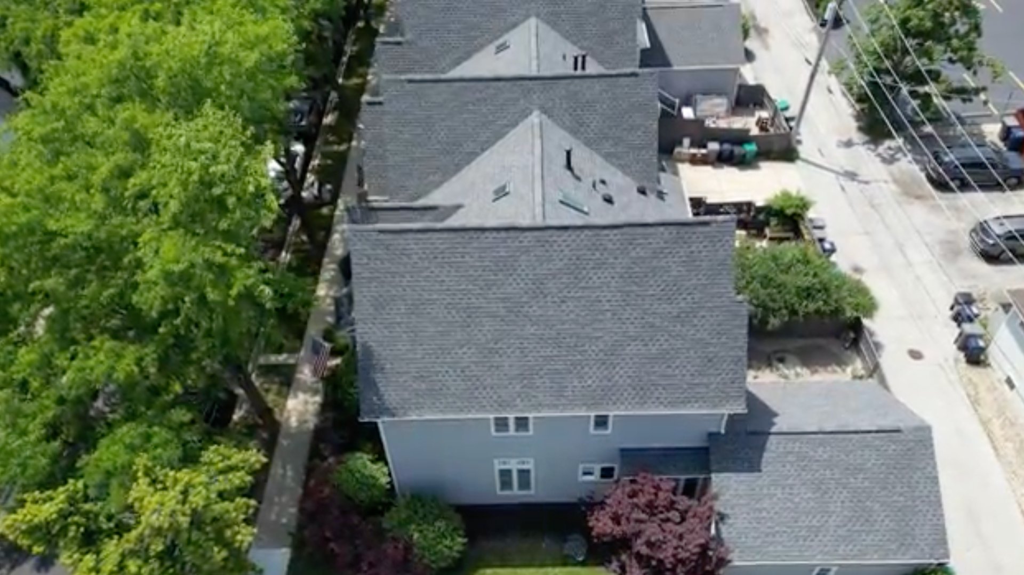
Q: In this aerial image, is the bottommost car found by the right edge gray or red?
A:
gray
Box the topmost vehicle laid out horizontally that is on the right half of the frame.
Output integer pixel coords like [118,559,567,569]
[924,148,1024,188]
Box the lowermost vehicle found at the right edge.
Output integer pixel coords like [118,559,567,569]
[967,218,1024,264]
